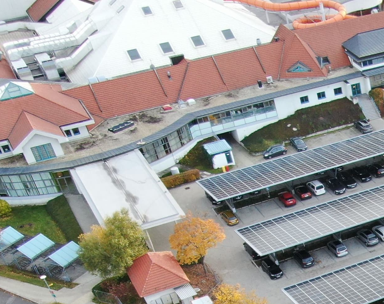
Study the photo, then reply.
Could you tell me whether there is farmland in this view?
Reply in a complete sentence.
No, the scene doesn't show any farmland.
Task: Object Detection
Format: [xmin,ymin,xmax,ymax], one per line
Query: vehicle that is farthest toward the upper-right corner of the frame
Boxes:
[354,122,374,135]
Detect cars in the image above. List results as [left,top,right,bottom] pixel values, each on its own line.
[306,181,327,198]
[293,250,317,270]
[246,247,266,266]
[356,231,381,249]
[204,193,221,208]
[367,163,384,179]
[354,122,374,135]
[337,174,357,190]
[289,137,310,151]
[294,188,314,203]
[249,189,265,200]
[261,256,284,280]
[326,179,347,196]
[371,227,384,245]
[263,144,289,158]
[332,165,348,175]
[278,193,298,208]
[327,241,349,260]
[351,165,372,182]
[221,212,240,228]
[233,193,249,205]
